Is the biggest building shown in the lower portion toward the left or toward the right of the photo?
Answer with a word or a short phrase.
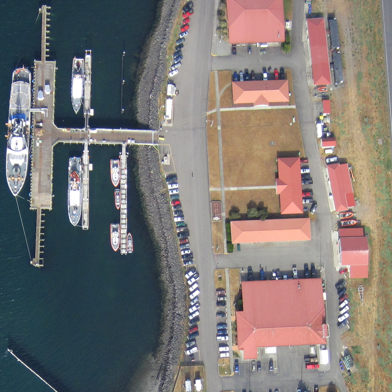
right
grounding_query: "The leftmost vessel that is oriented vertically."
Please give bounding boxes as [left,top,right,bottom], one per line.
[5,64,30,196]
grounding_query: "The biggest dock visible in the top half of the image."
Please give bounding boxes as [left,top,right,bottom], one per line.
[29,6,159,267]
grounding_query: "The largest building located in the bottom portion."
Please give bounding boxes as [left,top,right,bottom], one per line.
[235,278,330,359]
